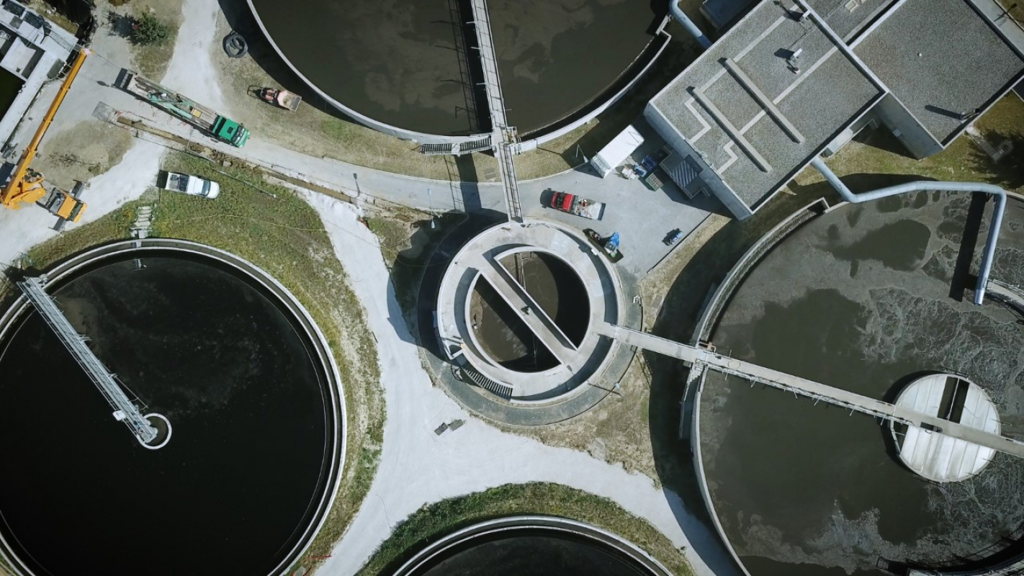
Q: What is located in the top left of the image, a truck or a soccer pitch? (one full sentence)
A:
There is a truck in the top left of the image.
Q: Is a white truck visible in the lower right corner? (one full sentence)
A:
No, no white truck can be made out in the lower right corner.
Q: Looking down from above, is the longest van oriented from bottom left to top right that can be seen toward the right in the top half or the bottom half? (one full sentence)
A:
The longest van oriented from bottom left to top right that can be seen toward the right is in the top half of the image.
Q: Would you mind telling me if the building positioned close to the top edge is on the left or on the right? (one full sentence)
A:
The building positioned close to the top edge is on the right side of the image.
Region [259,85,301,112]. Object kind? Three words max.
truck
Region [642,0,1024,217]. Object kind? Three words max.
building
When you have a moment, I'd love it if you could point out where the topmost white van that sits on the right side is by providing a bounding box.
[590,120,646,178]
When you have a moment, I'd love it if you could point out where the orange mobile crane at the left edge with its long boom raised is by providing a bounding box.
[0,48,126,236]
